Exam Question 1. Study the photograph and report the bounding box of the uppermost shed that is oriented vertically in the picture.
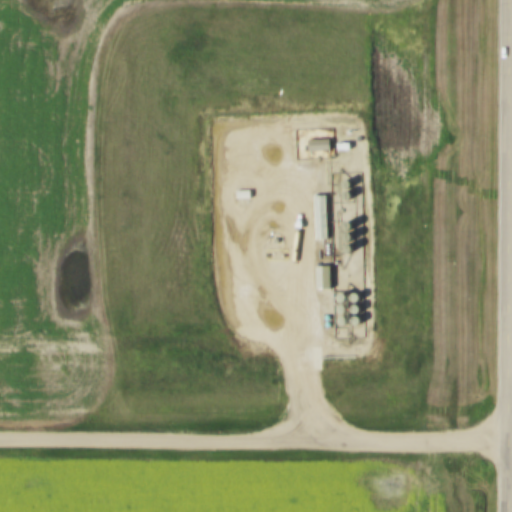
[314,194,328,240]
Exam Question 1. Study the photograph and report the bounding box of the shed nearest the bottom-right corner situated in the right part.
[316,266,330,290]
